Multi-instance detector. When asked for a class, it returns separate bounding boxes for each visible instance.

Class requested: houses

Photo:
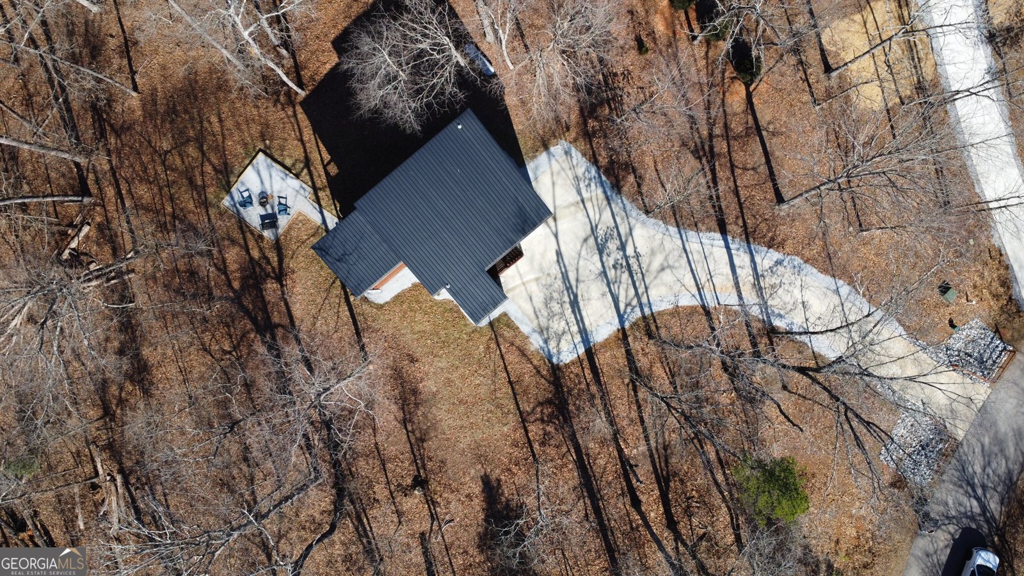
[311,108,553,326]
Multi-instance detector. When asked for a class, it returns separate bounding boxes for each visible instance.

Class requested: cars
[958,543,1007,576]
